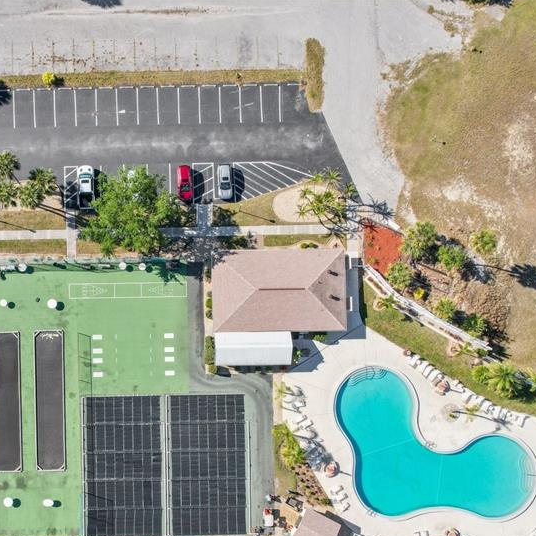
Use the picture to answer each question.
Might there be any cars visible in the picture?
Yes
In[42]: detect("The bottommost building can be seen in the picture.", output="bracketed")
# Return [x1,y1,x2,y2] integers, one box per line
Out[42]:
[292,508,341,536]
